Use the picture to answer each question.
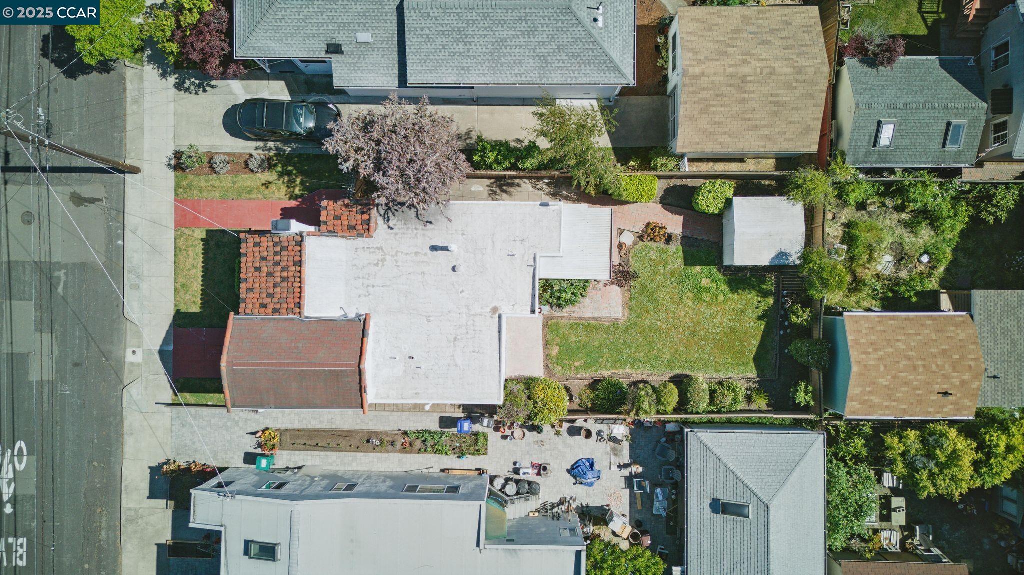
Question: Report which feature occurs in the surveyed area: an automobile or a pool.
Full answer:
The one in the frame is an automobile.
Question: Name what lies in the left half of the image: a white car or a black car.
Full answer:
The one visible in the left half of the image is a black car.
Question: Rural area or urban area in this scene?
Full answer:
The area is urban.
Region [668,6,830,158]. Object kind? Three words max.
building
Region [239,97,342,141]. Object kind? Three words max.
car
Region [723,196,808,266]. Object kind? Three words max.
shed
